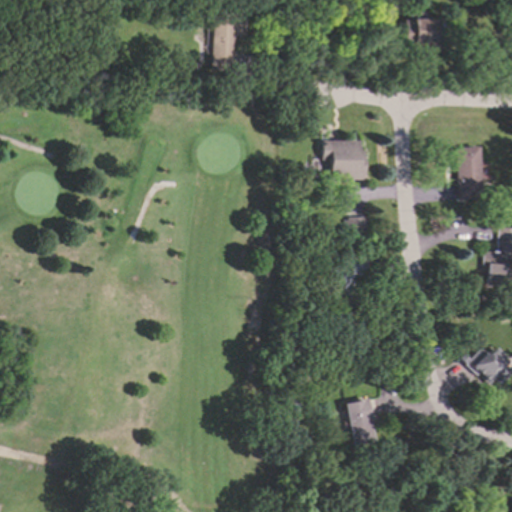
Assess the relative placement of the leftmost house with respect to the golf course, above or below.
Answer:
above it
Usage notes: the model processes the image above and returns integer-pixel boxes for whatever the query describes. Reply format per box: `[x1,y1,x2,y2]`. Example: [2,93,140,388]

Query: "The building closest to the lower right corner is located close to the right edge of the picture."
[460,347,510,387]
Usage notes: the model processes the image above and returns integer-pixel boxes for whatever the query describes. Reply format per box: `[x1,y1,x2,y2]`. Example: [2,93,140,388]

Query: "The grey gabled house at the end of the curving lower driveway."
[346,396,378,444]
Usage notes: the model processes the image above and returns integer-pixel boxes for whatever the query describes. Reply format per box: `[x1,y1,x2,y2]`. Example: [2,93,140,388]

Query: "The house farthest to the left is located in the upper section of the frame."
[213,22,235,57]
